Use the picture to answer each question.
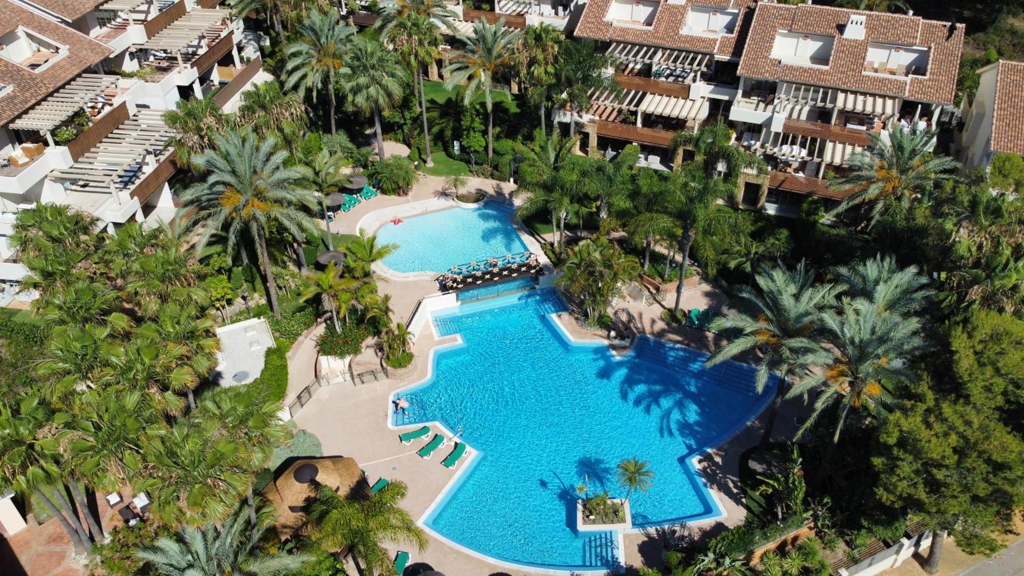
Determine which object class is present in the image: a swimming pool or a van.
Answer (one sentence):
There is a swimming pool in the scene.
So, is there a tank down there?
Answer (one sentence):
No, no tank is visible in the view.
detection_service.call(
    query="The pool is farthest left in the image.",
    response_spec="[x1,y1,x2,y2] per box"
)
[376,199,536,303]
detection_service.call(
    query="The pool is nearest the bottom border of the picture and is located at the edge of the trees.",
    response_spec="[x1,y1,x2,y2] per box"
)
[391,288,783,567]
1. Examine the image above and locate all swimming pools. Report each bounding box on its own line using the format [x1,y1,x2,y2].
[391,288,783,567]
[376,199,536,303]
